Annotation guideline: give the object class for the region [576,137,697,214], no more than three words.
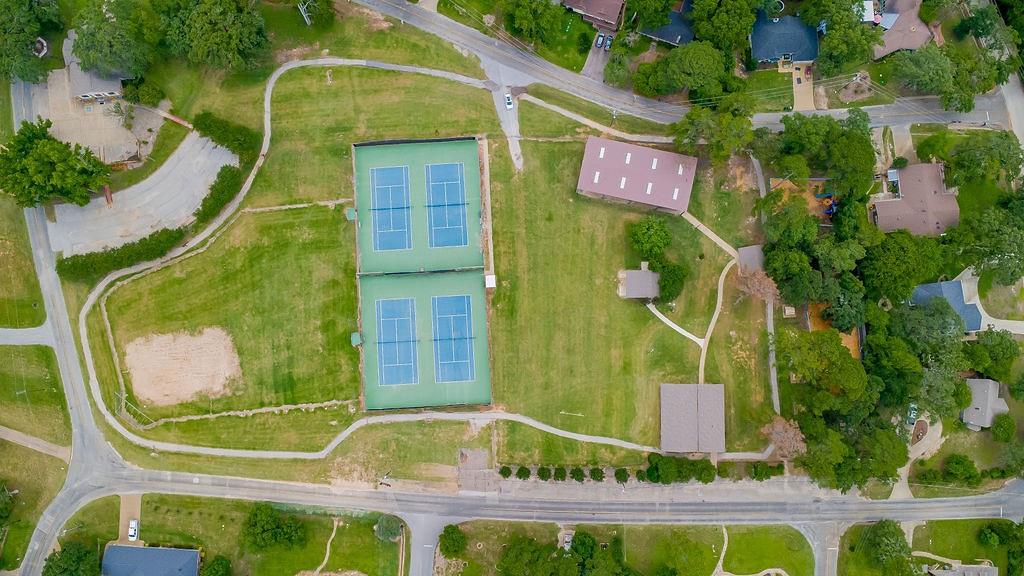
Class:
building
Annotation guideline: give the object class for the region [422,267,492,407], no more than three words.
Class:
tennis court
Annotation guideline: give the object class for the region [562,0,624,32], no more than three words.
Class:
house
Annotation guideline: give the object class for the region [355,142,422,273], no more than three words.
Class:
tennis court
